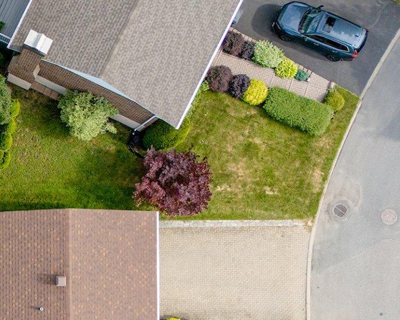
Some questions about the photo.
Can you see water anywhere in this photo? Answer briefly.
No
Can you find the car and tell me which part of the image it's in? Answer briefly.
top right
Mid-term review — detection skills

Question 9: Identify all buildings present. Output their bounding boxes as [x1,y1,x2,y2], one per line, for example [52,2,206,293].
[0,0,241,130]
[0,209,162,320]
